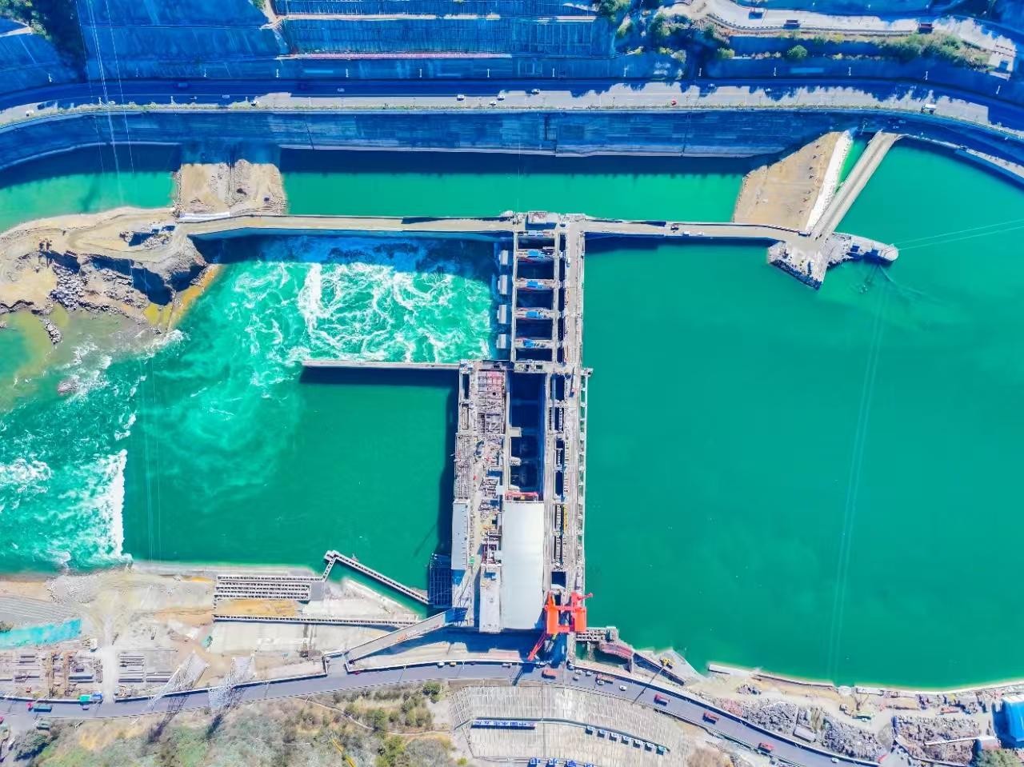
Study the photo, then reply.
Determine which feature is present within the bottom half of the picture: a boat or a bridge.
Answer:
bridge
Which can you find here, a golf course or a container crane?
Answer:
container crane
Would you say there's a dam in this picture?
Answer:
Yes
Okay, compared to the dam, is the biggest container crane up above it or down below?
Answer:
below it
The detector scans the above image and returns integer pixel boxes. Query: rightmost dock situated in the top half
[836,234,897,263]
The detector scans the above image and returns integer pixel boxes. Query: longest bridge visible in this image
[326,604,467,674]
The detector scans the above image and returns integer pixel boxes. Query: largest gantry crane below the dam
[524,588,592,663]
